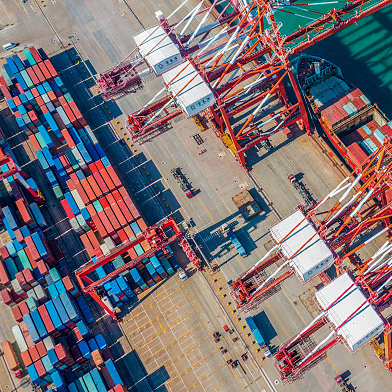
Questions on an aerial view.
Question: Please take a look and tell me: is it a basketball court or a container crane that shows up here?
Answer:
container crane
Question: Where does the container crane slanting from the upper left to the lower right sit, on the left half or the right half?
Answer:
left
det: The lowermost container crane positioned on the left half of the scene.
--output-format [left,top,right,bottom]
[75,216,204,326]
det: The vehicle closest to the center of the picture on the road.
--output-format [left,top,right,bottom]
[169,167,194,199]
